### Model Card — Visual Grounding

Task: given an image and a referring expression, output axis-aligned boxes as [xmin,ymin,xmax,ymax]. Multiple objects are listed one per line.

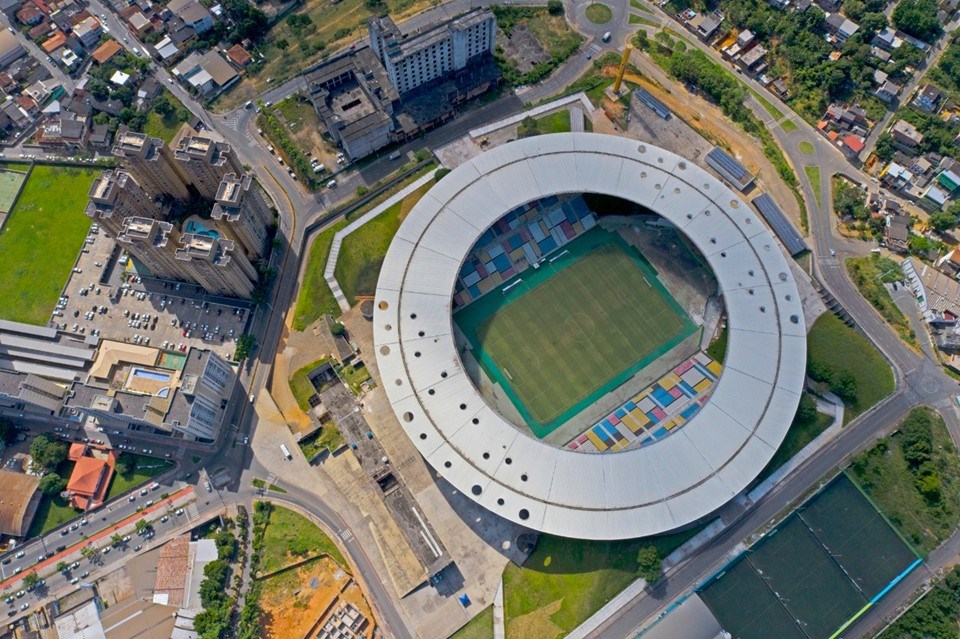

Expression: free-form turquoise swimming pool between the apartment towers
[187,213,238,250]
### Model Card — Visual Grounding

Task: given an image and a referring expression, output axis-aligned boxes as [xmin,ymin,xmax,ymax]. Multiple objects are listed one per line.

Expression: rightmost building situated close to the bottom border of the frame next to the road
[636,589,732,639]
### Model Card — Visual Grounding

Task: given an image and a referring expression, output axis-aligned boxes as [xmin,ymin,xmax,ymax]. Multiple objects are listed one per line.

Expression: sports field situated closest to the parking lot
[0,170,23,212]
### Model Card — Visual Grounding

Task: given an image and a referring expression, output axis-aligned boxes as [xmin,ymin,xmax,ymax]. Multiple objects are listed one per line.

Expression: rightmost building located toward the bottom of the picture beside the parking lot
[317,379,453,576]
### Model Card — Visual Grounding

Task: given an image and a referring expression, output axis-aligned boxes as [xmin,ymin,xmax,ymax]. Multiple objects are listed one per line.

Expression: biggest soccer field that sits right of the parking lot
[451,224,701,441]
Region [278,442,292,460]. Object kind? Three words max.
vehicle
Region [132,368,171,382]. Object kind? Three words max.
swimming pool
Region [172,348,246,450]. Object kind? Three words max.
building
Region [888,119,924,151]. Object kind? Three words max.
house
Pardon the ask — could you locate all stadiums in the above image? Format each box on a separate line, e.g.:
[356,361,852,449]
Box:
[374,129,806,539]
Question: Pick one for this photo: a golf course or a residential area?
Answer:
residential area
